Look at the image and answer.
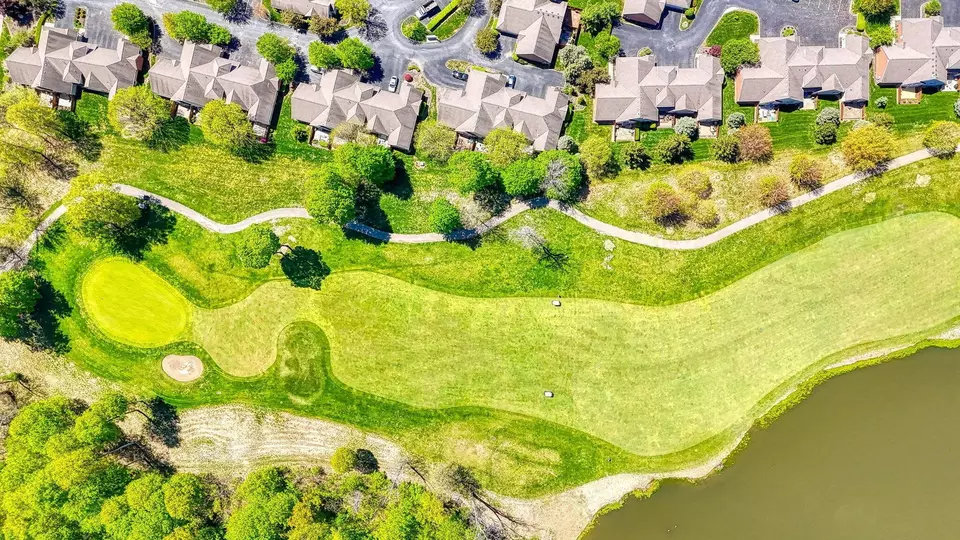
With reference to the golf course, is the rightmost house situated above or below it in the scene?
above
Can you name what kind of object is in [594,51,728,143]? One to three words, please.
house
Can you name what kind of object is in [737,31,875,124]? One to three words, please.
house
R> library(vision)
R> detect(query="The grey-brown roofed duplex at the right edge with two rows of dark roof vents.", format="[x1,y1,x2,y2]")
[876,13,960,107]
